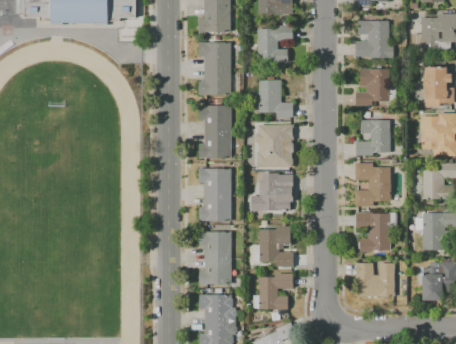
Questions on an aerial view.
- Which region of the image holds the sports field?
left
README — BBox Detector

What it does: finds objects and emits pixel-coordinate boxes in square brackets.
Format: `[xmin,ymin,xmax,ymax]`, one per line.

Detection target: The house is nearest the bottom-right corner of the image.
[422,262,456,301]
